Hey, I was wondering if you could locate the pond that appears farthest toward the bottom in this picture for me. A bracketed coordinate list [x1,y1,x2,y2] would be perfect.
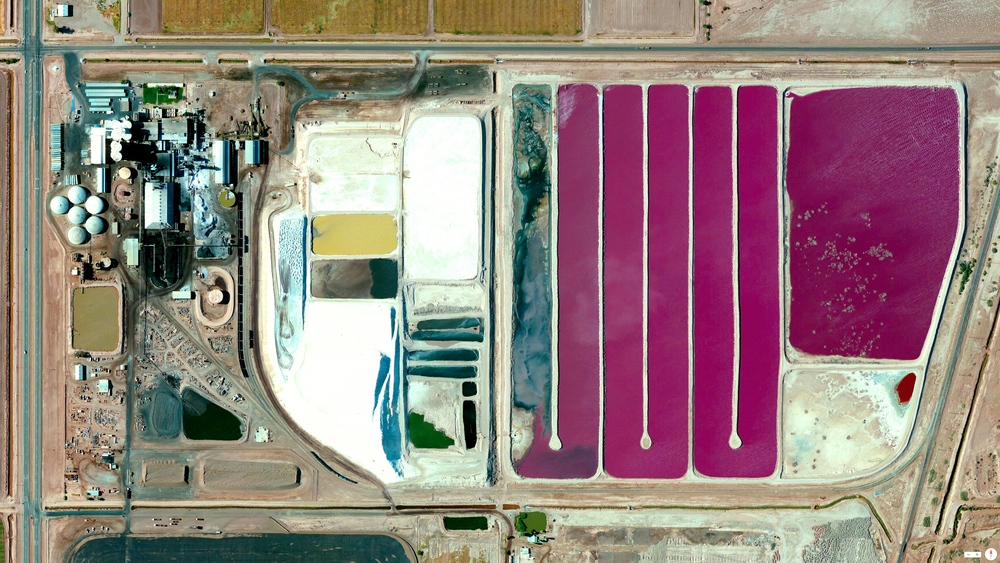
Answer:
[69,535,411,563]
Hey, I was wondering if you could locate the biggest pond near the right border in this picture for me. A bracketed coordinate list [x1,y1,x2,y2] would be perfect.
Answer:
[785,87,959,359]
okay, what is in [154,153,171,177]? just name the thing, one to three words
building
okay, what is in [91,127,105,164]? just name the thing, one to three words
building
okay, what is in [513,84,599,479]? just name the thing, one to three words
pond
